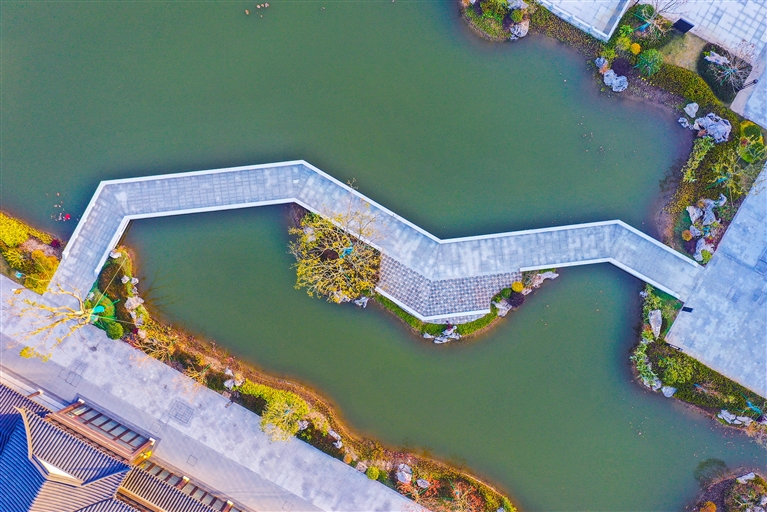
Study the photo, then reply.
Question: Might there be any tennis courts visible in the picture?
No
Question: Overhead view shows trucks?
No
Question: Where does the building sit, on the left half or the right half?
left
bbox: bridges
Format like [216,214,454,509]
[48,160,705,324]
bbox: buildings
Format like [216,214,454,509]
[0,366,264,512]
